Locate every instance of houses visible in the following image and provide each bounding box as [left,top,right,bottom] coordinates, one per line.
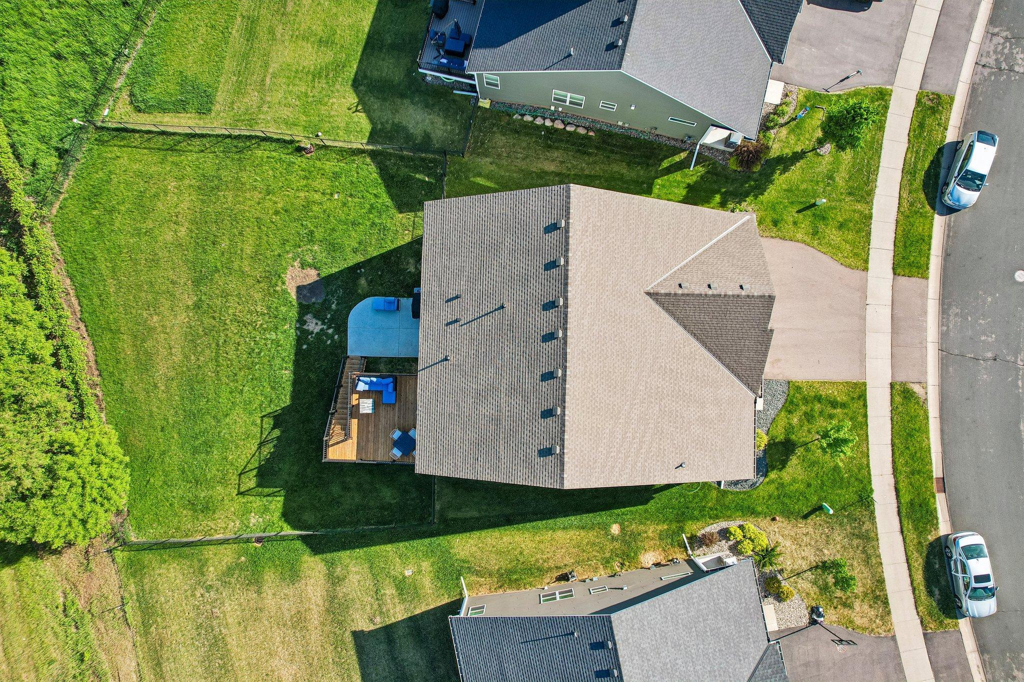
[454,0,809,169]
[448,534,796,682]
[412,183,776,491]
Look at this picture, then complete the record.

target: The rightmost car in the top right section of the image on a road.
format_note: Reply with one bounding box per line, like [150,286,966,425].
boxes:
[942,129,998,211]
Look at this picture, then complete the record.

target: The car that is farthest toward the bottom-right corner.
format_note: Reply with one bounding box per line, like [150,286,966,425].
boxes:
[945,530,999,621]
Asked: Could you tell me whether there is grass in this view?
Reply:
Yes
